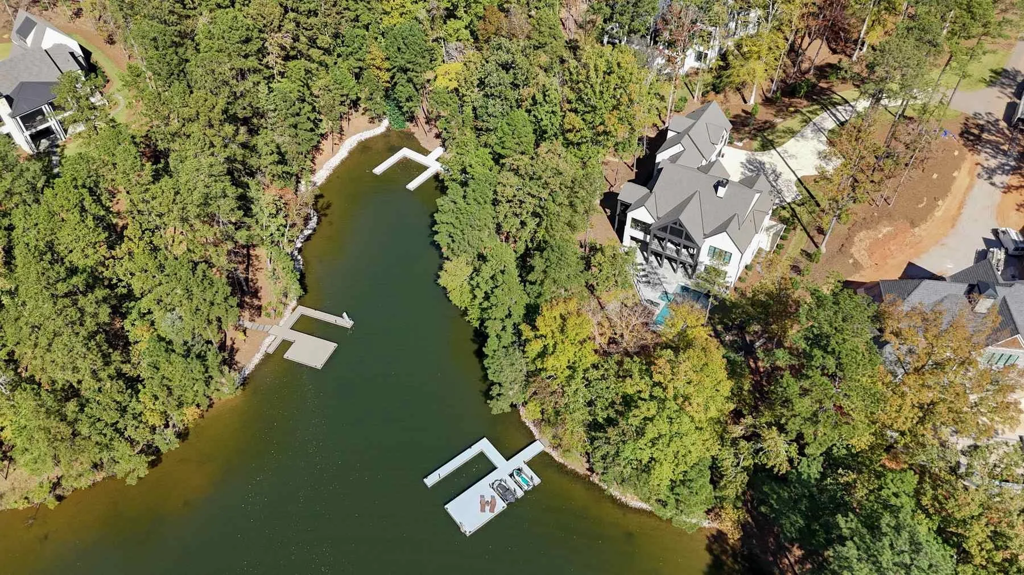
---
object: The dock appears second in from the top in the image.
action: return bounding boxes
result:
[265,305,355,371]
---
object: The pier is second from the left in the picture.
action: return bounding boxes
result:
[371,146,443,192]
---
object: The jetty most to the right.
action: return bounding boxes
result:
[422,437,543,537]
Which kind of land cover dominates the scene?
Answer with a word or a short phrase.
trees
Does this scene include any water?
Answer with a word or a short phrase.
Yes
